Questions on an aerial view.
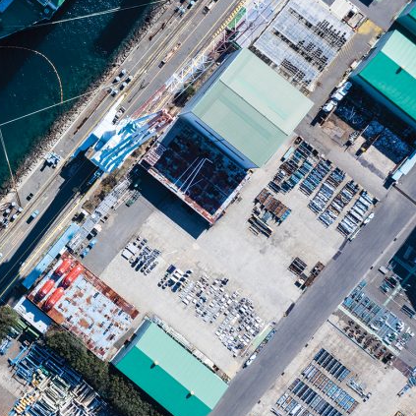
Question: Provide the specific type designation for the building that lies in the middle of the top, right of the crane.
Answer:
warehouse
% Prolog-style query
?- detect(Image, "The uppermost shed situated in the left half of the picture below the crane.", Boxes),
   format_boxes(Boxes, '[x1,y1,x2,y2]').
[88,194,123,224]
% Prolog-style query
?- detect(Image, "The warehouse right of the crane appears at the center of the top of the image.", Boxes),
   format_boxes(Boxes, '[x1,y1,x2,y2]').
[186,48,313,169]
